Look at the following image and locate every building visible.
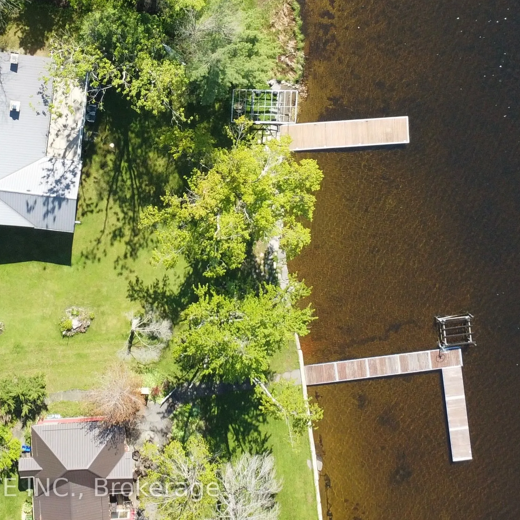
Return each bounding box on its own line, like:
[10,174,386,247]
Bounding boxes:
[19,417,135,520]
[0,47,90,235]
